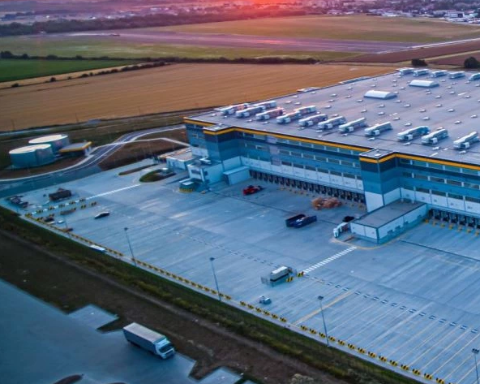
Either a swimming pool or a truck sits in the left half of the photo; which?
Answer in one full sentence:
You can see a truck in the left half of the photo.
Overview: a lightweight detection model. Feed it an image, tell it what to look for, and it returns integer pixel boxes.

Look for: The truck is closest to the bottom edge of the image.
[125,323,175,358]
